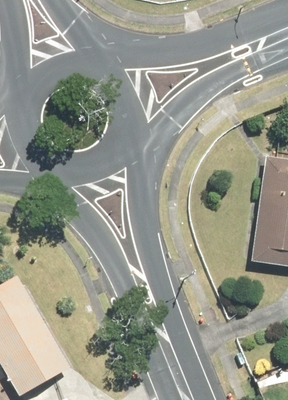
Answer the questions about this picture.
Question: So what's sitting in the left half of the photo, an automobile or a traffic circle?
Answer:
traffic circle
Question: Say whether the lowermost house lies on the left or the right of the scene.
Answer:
left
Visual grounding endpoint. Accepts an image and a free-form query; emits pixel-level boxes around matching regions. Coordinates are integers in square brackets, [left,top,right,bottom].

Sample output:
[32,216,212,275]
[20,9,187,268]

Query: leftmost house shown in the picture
[0,276,70,396]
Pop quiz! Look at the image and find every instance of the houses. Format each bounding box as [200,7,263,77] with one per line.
[0,276,70,396]
[252,156,288,266]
